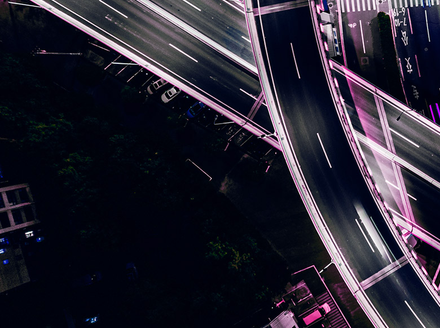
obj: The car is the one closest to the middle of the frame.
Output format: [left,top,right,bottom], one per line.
[217,123,240,141]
